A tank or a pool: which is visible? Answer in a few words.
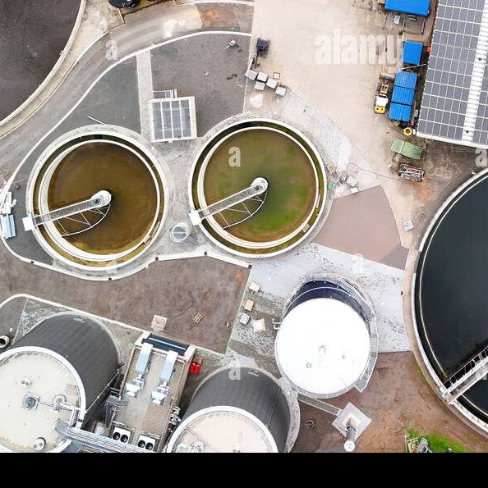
tank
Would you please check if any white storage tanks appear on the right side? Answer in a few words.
Yes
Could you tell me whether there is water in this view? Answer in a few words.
Yes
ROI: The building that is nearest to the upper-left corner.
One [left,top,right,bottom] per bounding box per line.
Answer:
[150,96,198,143]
